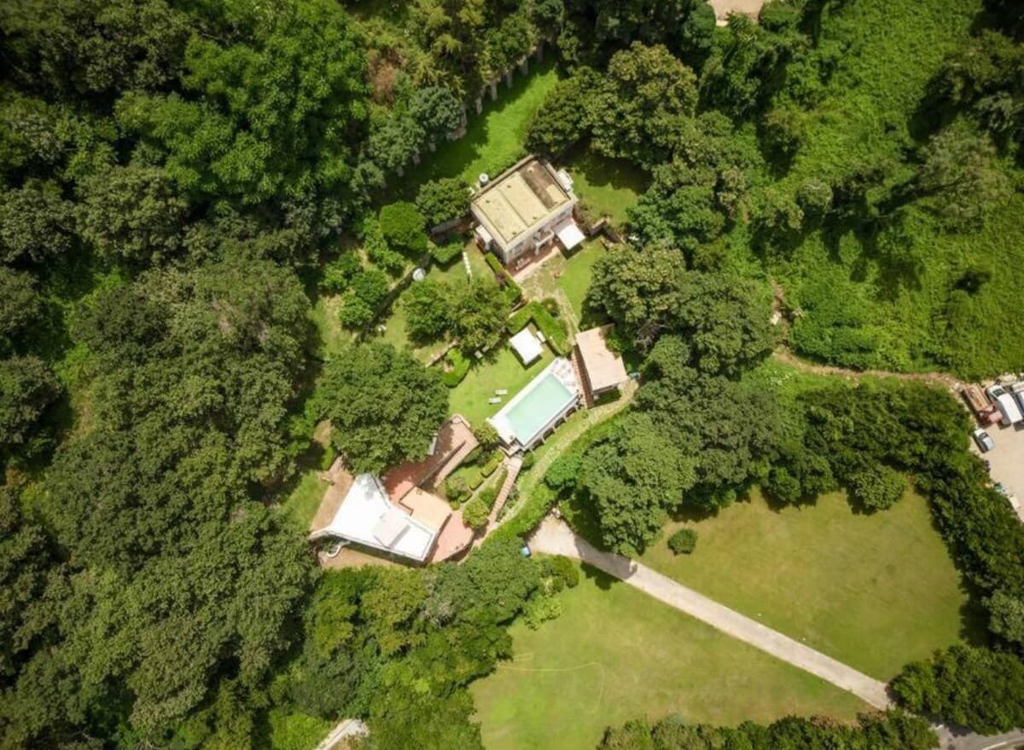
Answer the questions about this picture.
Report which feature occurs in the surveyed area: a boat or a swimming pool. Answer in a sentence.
There is a swimming pool in the scene.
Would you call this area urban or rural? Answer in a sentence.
This place is rural.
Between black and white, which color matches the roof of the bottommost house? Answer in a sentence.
The color of the roof of the bottommost house is white.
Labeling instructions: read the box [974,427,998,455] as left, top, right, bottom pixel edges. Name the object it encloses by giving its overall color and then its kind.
white car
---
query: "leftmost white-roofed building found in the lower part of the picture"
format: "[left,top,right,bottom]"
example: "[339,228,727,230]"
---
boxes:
[310,474,438,562]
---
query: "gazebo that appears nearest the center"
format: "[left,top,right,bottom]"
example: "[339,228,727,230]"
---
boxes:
[510,328,543,367]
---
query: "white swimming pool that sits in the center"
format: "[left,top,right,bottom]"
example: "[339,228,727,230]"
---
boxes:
[487,359,580,456]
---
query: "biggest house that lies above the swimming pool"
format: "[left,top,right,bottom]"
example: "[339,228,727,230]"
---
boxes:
[472,156,572,262]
